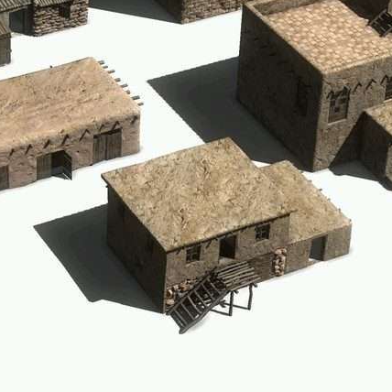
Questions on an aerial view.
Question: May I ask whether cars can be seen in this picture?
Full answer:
No, I can't see a single car in this photo.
